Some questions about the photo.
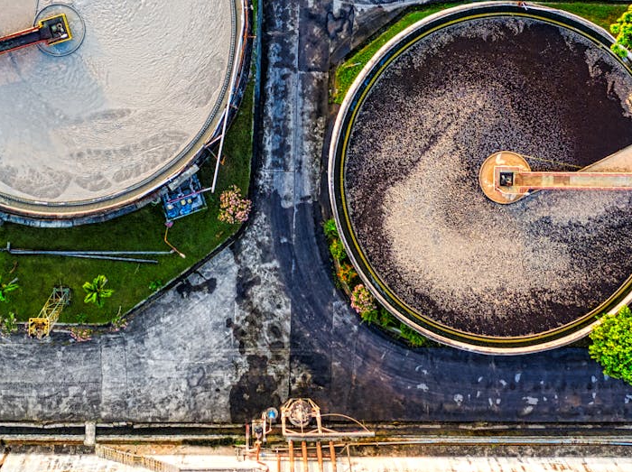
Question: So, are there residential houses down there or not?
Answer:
No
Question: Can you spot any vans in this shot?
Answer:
No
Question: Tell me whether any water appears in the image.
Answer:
Yes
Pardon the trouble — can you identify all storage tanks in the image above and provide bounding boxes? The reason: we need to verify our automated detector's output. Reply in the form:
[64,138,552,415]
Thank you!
[328,1,632,355]
[0,0,248,216]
